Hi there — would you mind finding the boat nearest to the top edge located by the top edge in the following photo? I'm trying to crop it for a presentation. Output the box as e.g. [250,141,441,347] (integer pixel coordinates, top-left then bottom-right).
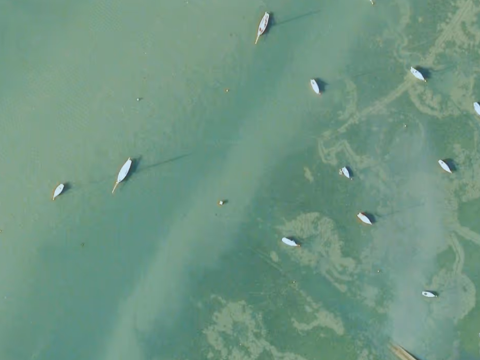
[256,11,269,40]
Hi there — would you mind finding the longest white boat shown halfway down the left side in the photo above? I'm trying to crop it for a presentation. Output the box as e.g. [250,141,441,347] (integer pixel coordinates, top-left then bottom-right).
[111,157,133,192]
